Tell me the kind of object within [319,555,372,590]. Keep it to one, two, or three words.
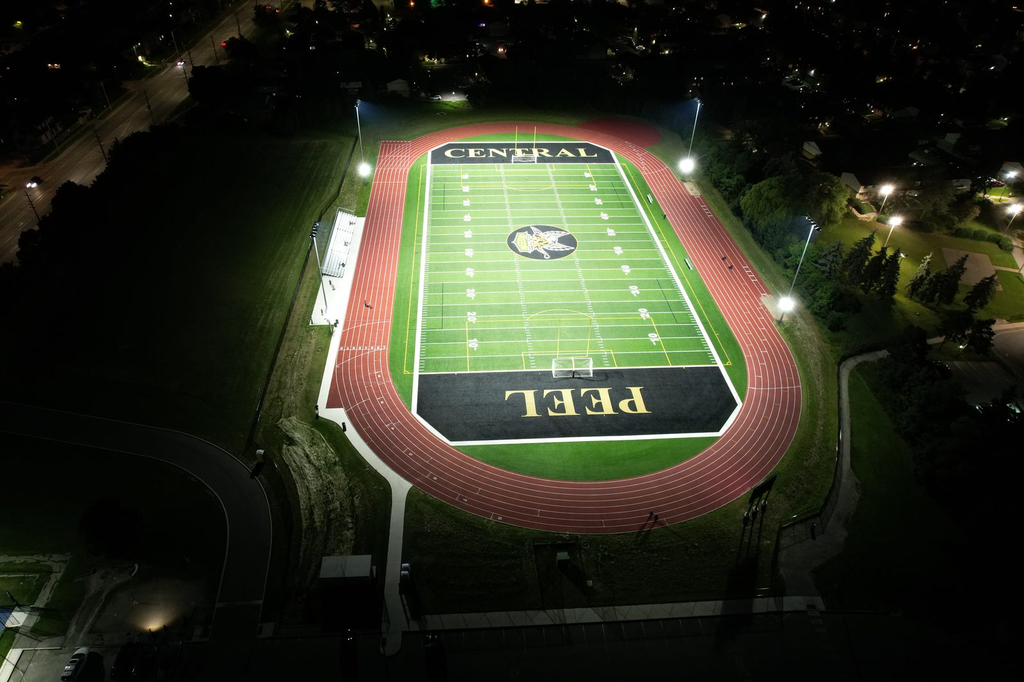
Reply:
shed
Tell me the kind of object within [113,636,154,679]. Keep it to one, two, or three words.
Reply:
car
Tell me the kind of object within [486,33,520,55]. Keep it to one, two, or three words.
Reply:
house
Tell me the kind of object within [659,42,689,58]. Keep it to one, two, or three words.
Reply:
house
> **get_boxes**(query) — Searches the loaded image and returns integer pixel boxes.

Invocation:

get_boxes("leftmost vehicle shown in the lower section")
[50,642,96,682]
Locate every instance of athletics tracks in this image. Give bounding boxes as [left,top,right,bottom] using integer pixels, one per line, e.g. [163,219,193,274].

[335,122,806,539]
